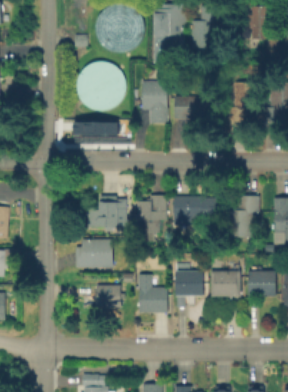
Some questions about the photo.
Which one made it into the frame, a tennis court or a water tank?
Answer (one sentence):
The image shows a water tank.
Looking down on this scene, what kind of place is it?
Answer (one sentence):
It's a residential area.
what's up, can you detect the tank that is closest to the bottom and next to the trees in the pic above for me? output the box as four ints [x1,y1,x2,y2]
[77,61,126,111]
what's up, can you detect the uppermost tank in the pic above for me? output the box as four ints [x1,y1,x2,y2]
[96,4,145,54]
